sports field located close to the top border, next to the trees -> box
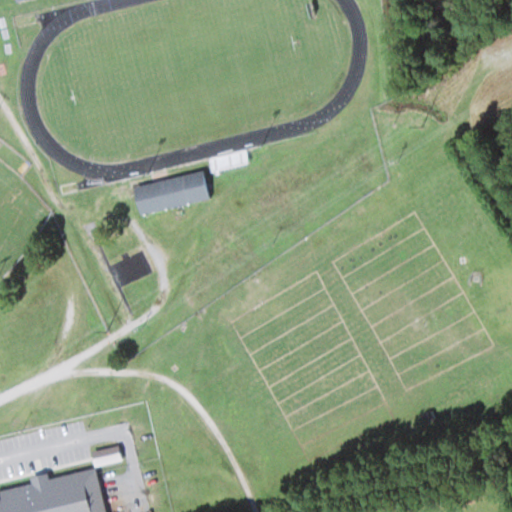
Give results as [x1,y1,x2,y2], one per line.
[37,0,351,164]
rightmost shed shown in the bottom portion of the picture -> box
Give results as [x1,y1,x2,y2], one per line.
[94,446,124,468]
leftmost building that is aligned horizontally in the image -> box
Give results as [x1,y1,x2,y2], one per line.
[0,469,105,512]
